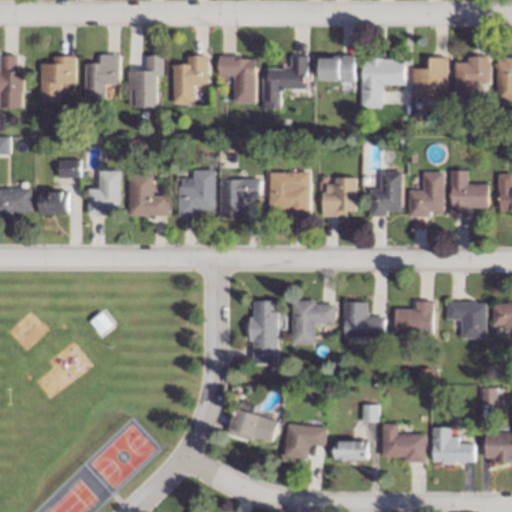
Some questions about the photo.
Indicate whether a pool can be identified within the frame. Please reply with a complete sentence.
Yes, a pool is visible in the scene.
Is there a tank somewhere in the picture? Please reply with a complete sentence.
No, no tank is visible in the view.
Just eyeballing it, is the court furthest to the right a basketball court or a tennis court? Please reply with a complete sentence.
I'd say the court furthest to the right is a basketball court.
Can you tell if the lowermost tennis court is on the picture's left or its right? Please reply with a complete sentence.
The lowermost tennis court sits on the left side.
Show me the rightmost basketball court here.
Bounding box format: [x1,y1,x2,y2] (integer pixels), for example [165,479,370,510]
[85,418,161,497]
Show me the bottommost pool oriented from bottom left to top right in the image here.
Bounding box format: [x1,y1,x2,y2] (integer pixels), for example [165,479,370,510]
[262,390,281,411]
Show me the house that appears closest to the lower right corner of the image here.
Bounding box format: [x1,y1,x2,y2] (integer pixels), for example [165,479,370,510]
[483,435,512,465]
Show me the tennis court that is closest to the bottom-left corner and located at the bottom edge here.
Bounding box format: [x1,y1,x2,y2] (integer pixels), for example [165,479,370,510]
[36,465,112,512]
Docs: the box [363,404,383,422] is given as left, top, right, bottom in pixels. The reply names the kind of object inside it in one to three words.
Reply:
building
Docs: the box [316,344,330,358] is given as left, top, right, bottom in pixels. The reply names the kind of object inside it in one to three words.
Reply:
swimming pool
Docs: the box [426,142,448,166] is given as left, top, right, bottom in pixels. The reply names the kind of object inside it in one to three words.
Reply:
swimming pool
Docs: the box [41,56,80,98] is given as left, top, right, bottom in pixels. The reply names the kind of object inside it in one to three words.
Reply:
house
